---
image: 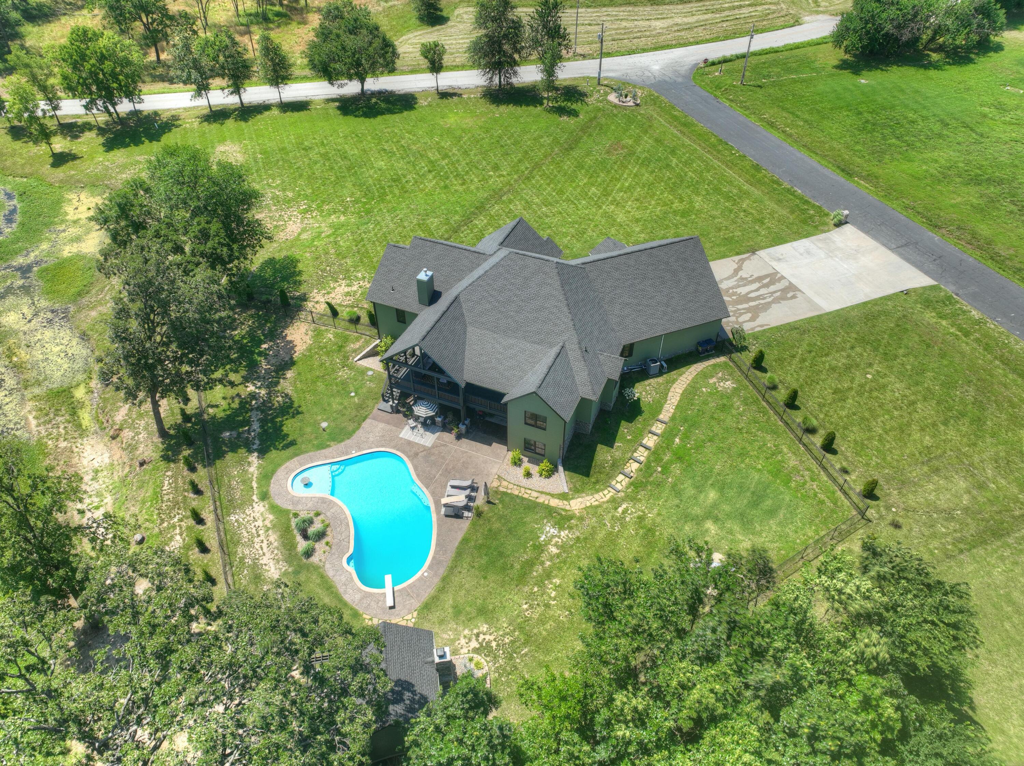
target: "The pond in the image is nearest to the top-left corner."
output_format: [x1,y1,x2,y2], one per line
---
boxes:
[0,179,106,453]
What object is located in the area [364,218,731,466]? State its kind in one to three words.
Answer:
house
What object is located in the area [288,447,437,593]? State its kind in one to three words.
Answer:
swimming pool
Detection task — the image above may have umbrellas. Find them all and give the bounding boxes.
[413,400,439,418]
[482,479,494,506]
